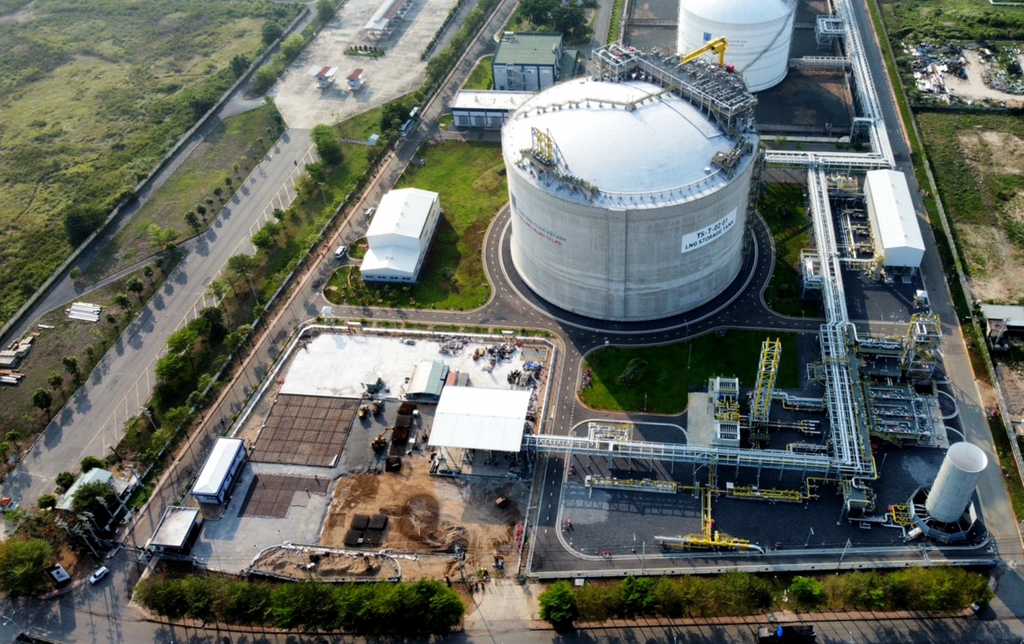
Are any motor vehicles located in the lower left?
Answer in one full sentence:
Yes, a motor vehicle appears in the lower left.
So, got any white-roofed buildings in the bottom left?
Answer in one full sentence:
Yes, in the bottom left there is a white-roofed building.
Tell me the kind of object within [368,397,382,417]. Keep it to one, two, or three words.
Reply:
work vehicle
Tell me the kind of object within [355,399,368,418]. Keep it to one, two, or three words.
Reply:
vehicle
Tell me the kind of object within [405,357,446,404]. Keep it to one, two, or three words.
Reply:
shed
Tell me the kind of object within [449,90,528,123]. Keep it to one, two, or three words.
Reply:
building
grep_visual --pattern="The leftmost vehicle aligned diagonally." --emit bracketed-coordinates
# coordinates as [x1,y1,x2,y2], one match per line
[84,562,112,586]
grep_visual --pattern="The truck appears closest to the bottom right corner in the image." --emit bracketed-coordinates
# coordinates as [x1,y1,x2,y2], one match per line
[761,622,811,643]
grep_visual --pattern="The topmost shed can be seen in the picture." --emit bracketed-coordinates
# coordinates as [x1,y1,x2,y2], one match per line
[357,0,426,45]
